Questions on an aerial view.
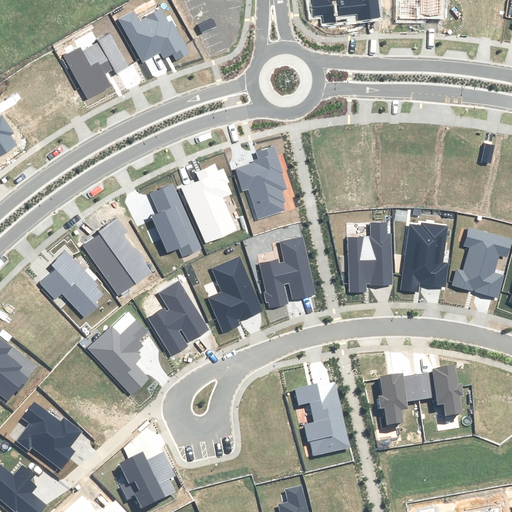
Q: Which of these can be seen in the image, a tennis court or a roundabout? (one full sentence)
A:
There is a roundabout in the scene.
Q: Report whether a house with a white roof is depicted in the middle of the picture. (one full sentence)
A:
Yes, a house with a white roof appears in the middle of the picture.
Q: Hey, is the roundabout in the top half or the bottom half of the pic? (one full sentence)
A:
The roundabout is in the top half of the image.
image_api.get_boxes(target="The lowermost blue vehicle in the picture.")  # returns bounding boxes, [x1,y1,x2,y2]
[204,350,218,364]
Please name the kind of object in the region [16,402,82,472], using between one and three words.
house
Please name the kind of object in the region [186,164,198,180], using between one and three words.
vehicle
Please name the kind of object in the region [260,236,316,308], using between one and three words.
house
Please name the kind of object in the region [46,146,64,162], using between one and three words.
vehicle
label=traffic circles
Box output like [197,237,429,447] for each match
[252,47,319,114]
